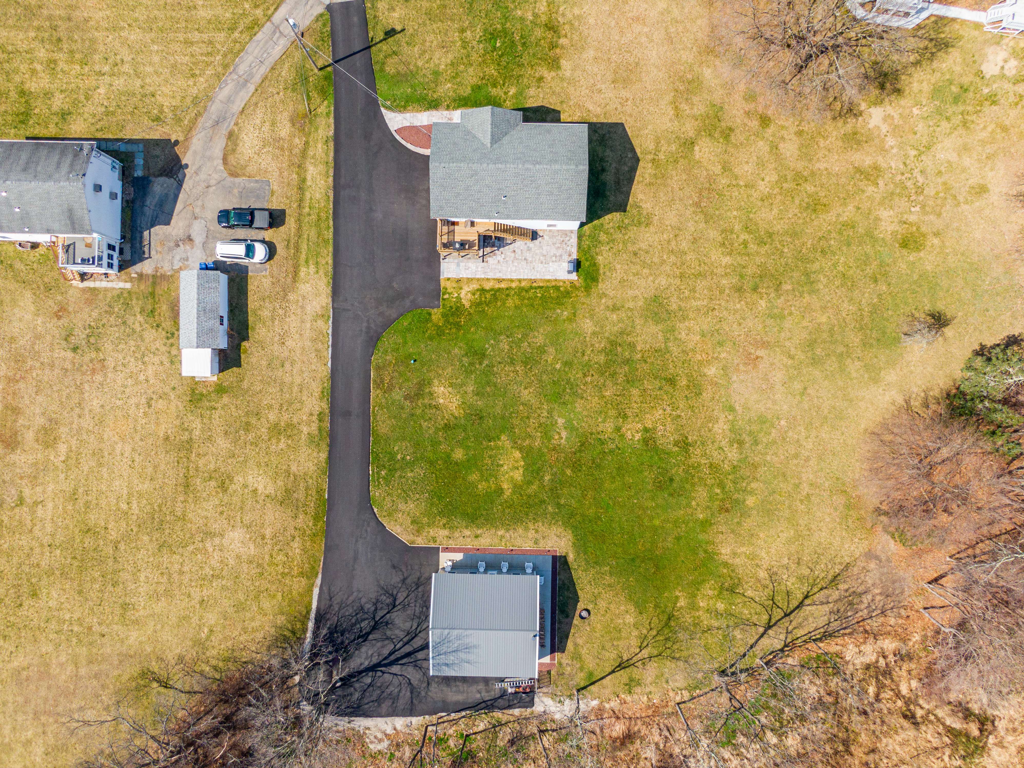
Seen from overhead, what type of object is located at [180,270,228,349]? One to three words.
shed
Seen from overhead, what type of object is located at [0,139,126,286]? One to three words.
house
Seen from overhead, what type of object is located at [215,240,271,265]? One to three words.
car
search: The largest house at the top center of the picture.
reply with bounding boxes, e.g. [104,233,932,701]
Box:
[429,105,589,229]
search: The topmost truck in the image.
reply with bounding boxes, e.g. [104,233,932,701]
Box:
[217,206,276,232]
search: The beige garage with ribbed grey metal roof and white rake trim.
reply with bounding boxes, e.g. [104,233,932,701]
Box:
[430,568,539,678]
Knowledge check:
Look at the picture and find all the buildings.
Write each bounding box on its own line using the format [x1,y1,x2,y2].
[0,139,126,286]
[429,105,589,229]
[180,270,228,349]
[430,568,539,678]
